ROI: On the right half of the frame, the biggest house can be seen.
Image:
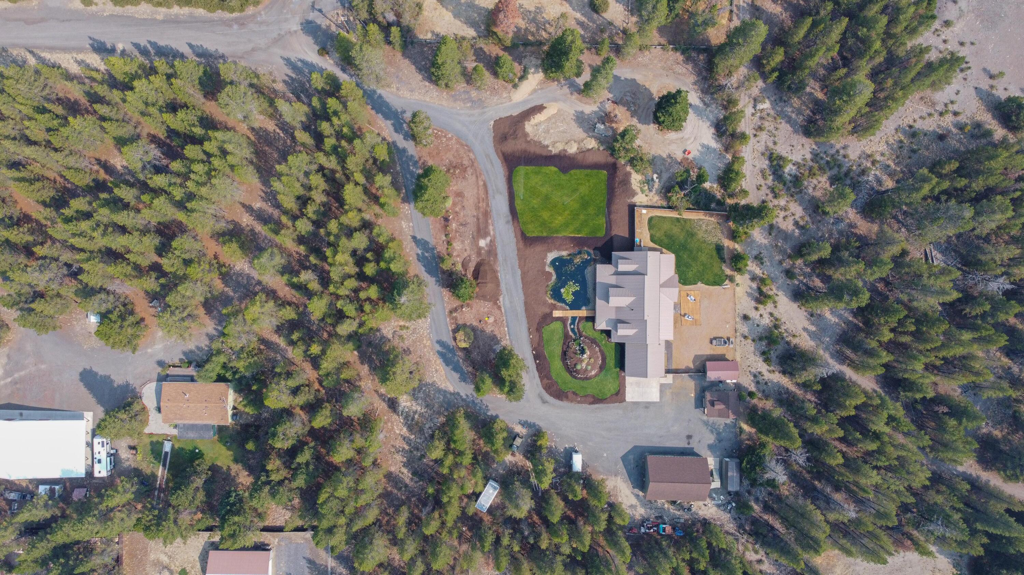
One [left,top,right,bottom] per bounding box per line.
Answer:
[596,247,678,378]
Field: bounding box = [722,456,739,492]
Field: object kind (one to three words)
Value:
shed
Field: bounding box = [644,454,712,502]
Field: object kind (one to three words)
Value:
building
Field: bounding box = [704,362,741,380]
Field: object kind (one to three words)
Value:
shed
